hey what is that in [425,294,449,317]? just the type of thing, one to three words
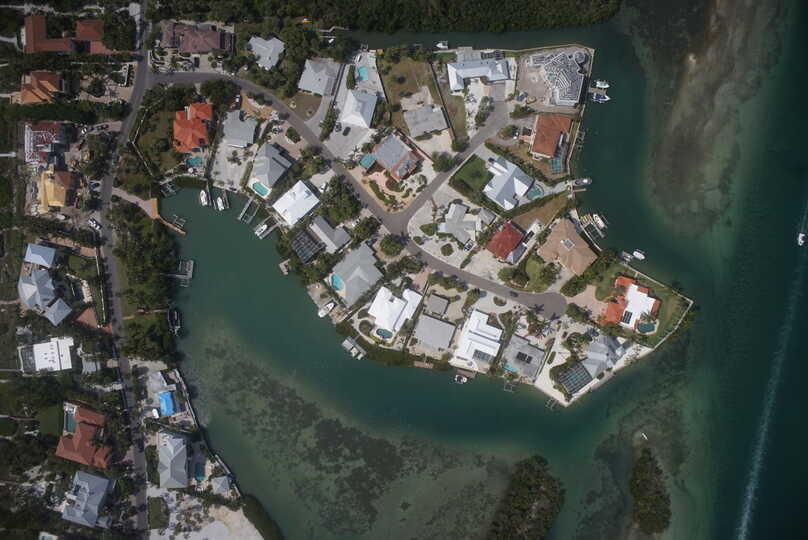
building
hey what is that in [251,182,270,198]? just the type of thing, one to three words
swimming pool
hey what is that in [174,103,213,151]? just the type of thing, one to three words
house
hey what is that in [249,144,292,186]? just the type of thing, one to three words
house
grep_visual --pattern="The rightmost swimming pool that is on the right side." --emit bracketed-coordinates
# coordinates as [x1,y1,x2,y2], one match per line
[638,321,656,334]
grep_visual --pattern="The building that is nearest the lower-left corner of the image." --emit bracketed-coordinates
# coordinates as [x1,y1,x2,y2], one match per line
[62,471,114,528]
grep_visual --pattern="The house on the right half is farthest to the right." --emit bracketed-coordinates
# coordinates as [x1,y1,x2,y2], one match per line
[601,278,661,329]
